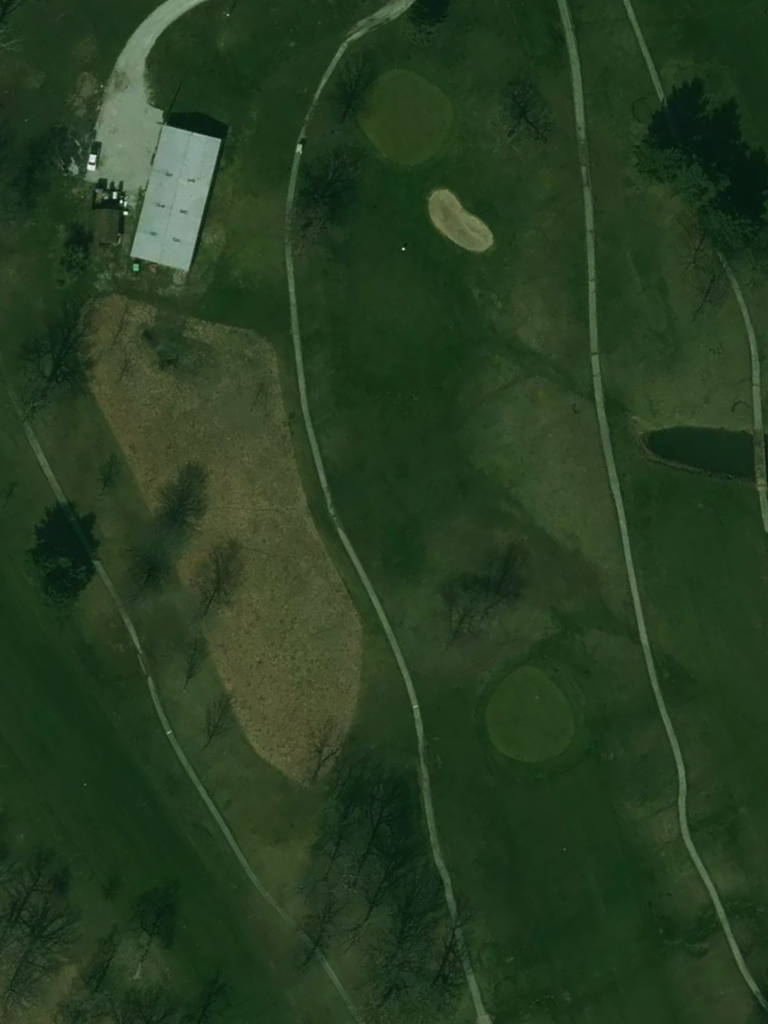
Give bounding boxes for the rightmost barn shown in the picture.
[132,125,221,270]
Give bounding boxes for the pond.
[641,425,768,482]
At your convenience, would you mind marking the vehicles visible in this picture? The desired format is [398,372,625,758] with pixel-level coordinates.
[103,192,109,202]
[88,148,97,171]
[112,190,118,200]
[296,143,302,152]
[95,187,104,206]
